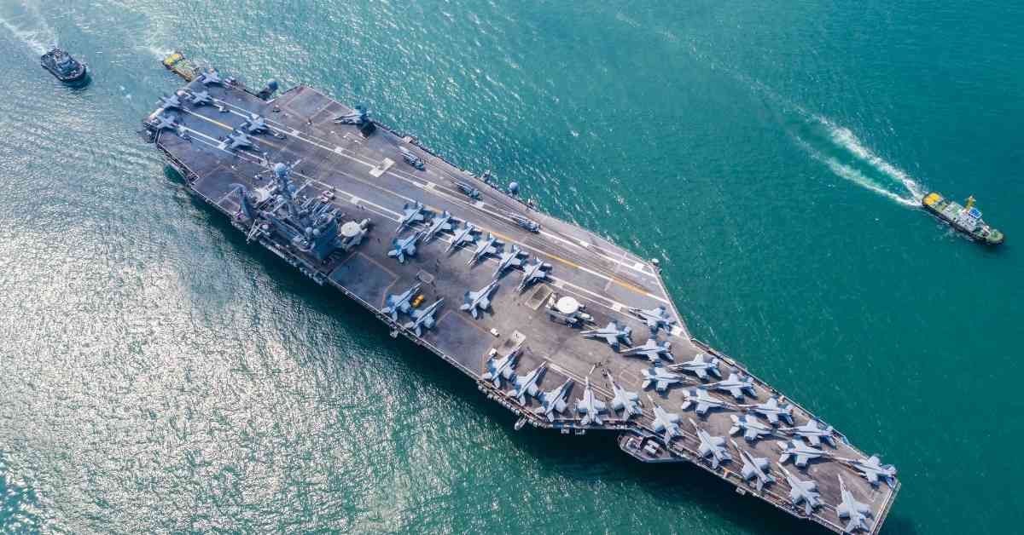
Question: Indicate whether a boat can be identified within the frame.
Yes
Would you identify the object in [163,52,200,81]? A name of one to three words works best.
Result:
boat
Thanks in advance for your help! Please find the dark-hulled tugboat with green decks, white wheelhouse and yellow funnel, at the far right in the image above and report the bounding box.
[921,193,1007,241]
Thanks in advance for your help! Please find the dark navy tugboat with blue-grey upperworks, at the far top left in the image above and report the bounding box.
[38,46,91,86]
